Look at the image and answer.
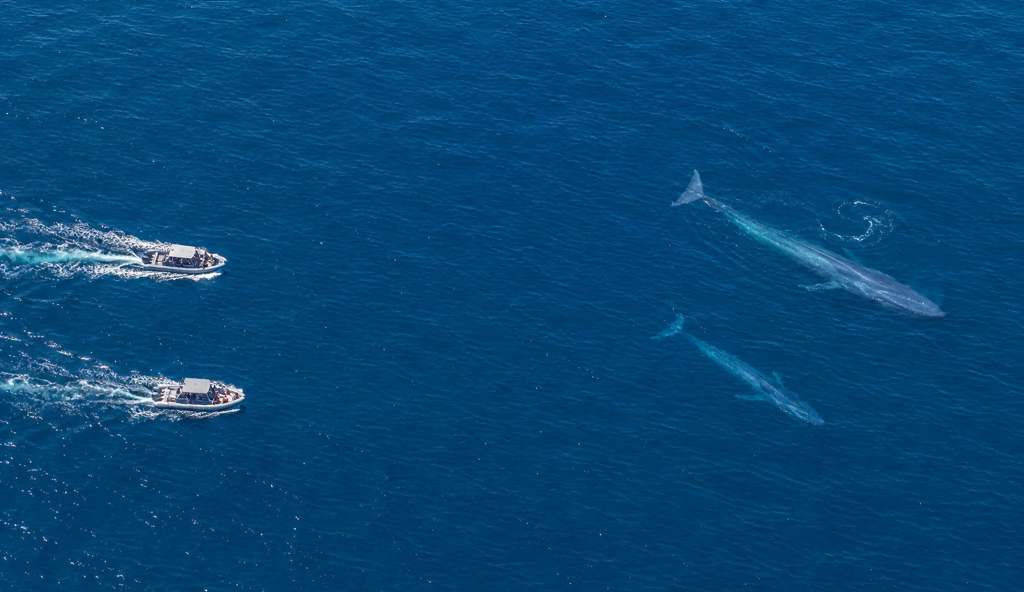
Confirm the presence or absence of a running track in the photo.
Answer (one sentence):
No, this view has no running track in it.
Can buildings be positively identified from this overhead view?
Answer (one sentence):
No, there is no building in the image.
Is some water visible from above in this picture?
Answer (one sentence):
Yes, water can be seen from above here.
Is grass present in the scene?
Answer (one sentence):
No, grass can't be seen anywhere here.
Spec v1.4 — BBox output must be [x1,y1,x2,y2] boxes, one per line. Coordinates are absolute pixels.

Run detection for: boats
[152,373,244,408]
[141,239,226,271]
